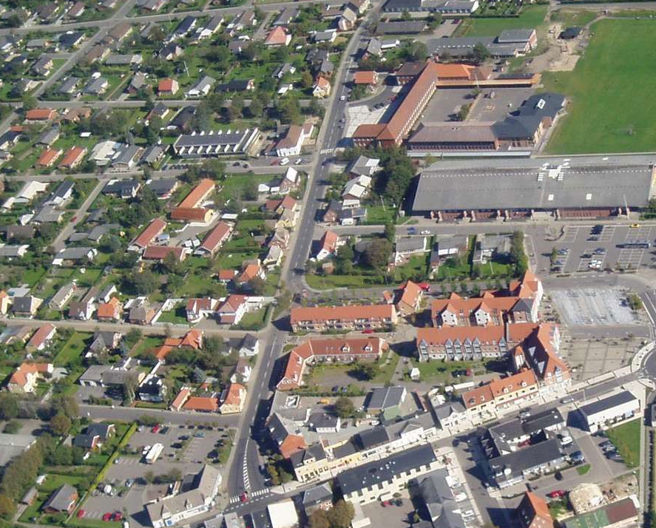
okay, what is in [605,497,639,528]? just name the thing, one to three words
building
